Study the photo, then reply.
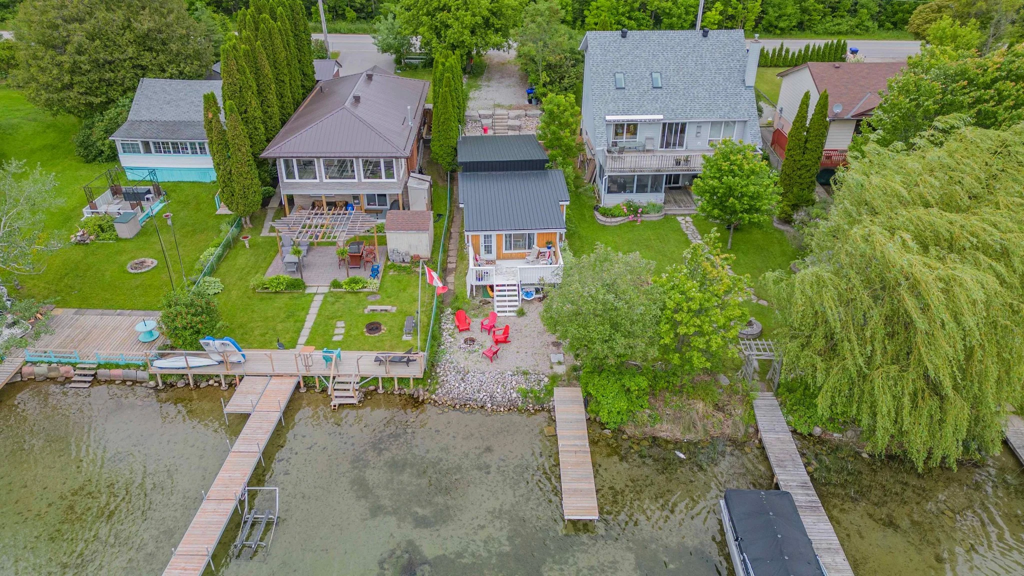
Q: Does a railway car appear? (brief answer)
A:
No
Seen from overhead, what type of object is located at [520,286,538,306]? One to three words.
boat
